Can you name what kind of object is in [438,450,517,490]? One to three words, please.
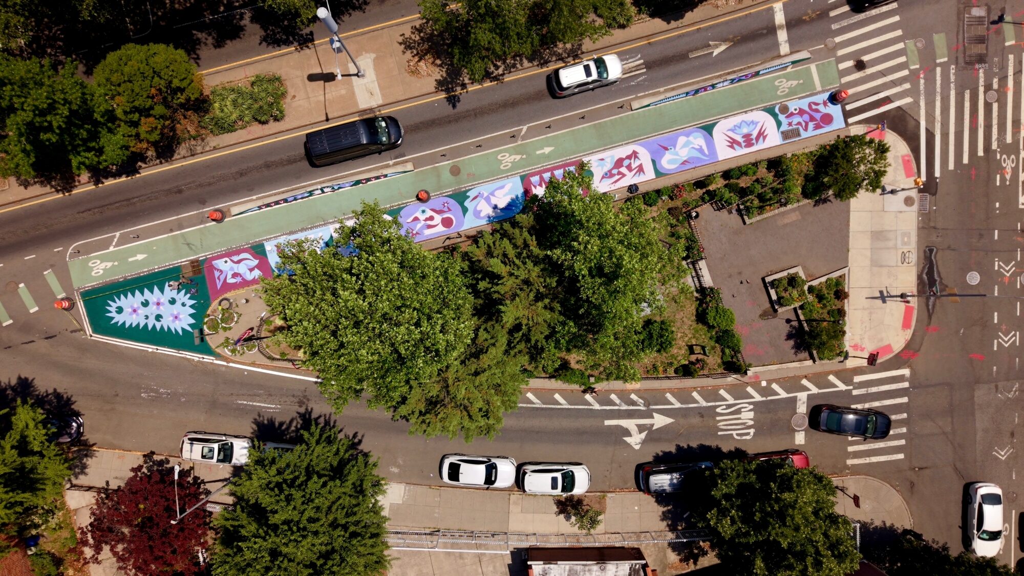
car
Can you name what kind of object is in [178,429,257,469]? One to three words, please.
car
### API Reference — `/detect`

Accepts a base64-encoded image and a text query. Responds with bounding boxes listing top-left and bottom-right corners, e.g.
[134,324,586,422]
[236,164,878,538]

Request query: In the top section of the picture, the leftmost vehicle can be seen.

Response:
[304,113,407,166]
